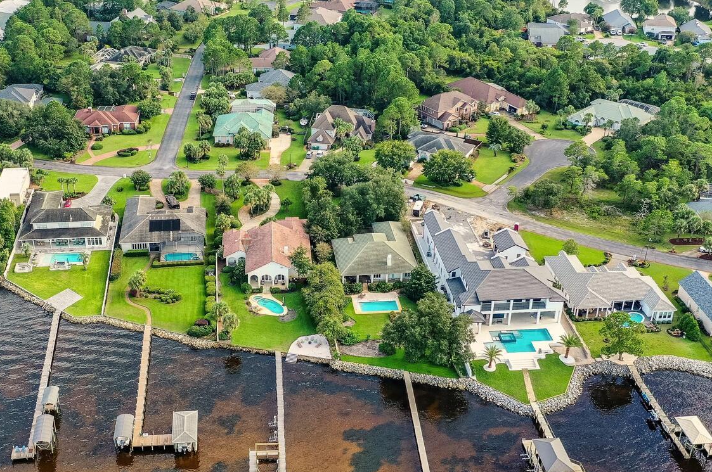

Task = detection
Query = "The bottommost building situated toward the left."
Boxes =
[172,411,200,468]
